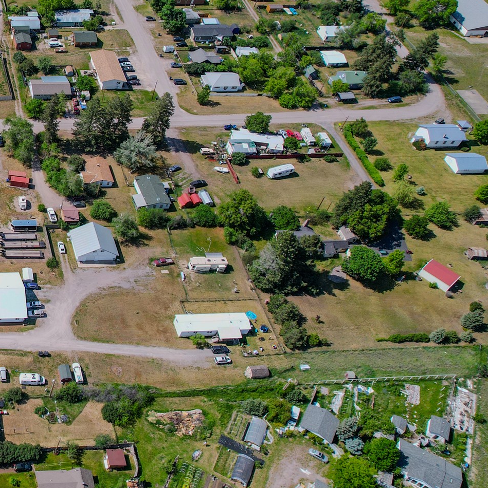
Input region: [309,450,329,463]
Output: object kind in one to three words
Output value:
vehicle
